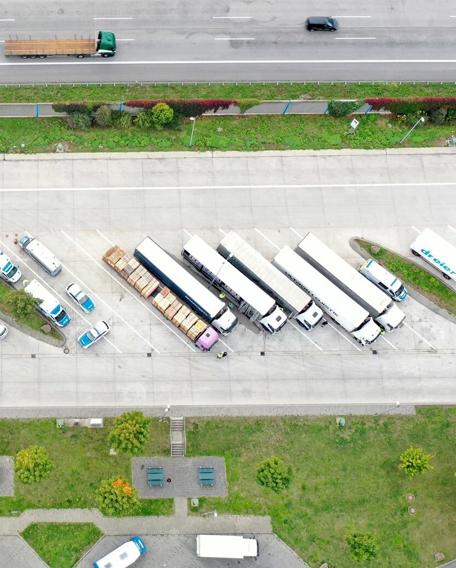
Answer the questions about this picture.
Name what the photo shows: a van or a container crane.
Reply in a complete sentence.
Of the two, only a van appears.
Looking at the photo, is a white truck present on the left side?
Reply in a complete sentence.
Yes, there is a white truck on the left side.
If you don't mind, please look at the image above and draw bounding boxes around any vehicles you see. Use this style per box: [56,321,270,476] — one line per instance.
[65,282,97,315]
[408,230,456,284]
[23,279,69,328]
[5,33,116,61]
[0,322,11,340]
[94,535,146,568]
[194,535,260,561]
[293,232,405,333]
[304,16,339,34]
[78,319,111,350]
[358,257,406,303]
[272,246,381,347]
[0,251,22,284]
[19,236,63,280]
[216,230,325,331]
[133,236,240,337]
